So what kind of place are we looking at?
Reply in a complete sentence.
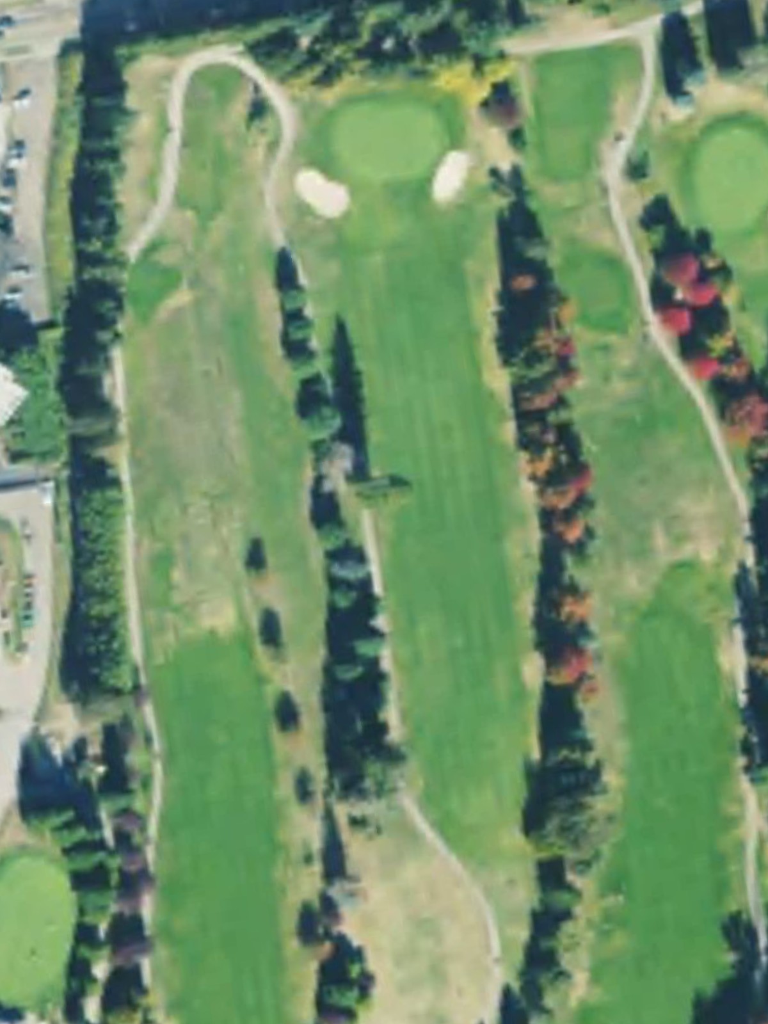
This image shows a golf course.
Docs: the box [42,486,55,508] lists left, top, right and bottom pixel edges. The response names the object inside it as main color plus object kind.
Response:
white vehicle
